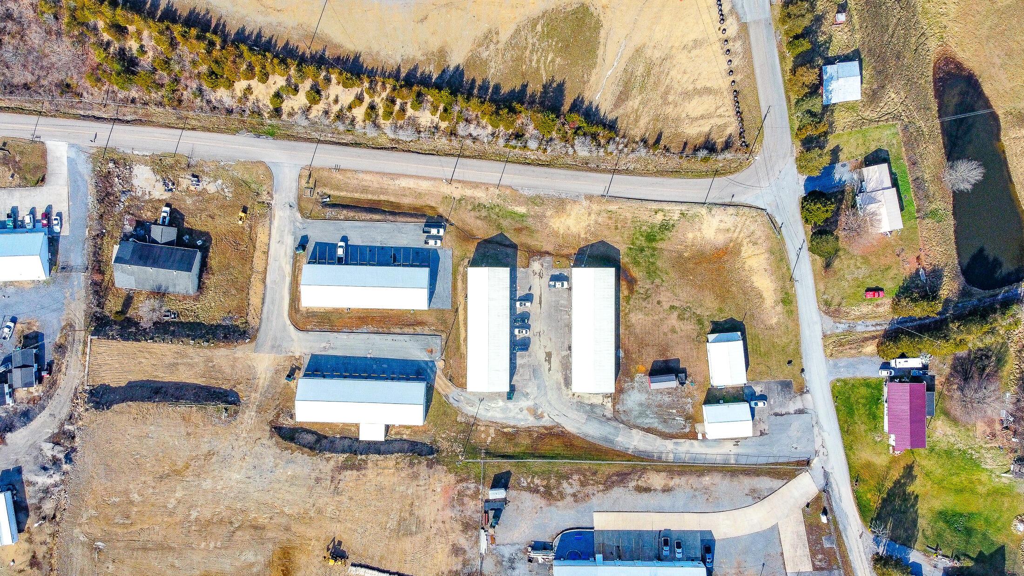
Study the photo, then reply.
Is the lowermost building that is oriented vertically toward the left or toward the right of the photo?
left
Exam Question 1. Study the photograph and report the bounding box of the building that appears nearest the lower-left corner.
[0,487,28,546]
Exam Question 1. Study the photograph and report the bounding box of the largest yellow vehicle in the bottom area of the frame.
[321,554,351,567]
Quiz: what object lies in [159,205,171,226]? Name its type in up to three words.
vehicle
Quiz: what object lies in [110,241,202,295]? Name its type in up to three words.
barn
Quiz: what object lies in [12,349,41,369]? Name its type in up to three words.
shed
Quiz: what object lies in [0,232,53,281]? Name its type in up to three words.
building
